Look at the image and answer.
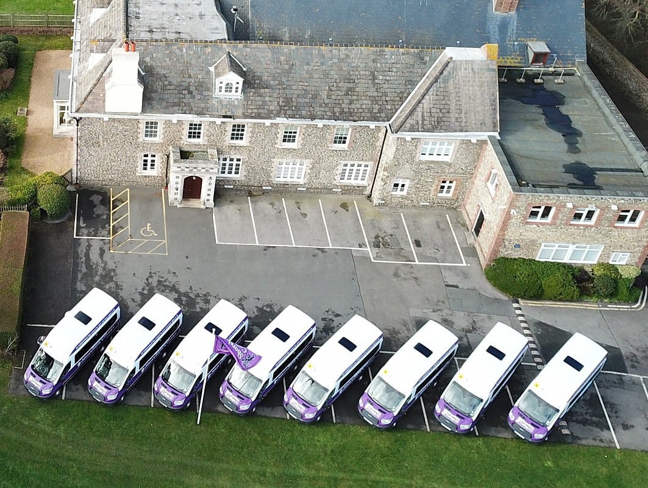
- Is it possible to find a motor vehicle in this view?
Yes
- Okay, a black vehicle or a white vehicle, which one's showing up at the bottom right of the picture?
white vehicle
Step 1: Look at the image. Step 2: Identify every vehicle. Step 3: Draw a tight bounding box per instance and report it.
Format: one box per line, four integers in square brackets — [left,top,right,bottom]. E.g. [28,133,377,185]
[279,314,385,430]
[85,293,183,412]
[149,300,250,418]
[23,287,123,405]
[353,321,461,436]
[428,323,529,442]
[214,305,317,421]
[500,333,609,449]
